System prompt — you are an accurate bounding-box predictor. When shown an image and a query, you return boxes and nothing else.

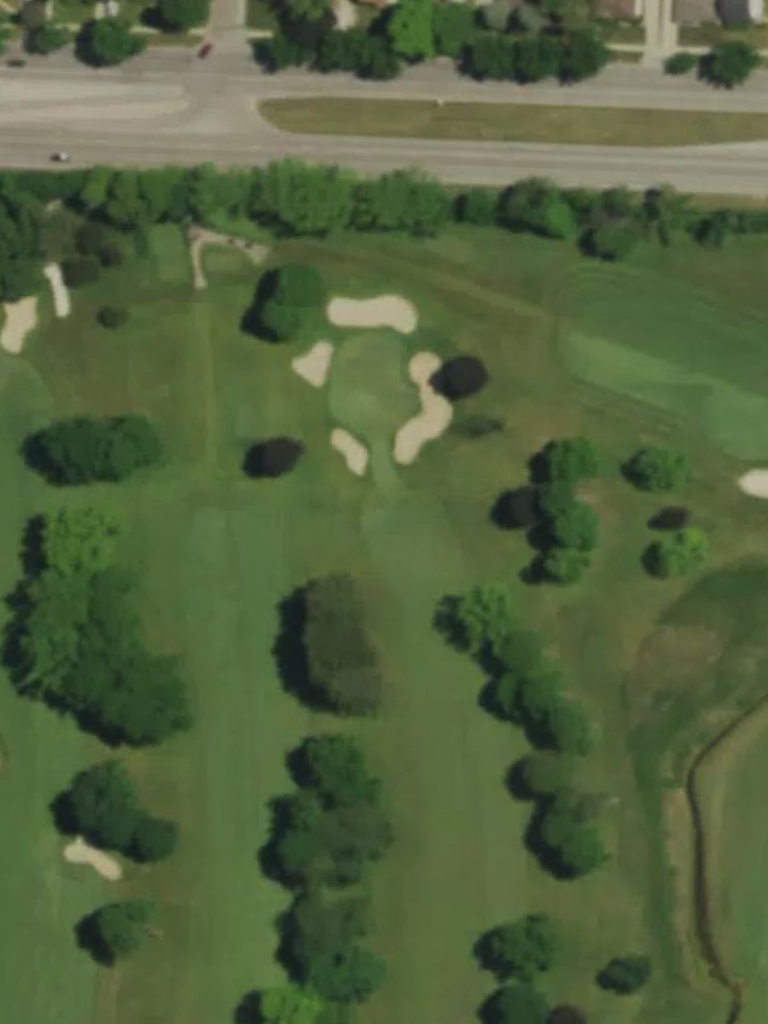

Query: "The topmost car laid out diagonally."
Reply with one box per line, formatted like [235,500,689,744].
[198,41,212,58]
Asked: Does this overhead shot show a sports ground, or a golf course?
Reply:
golf course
